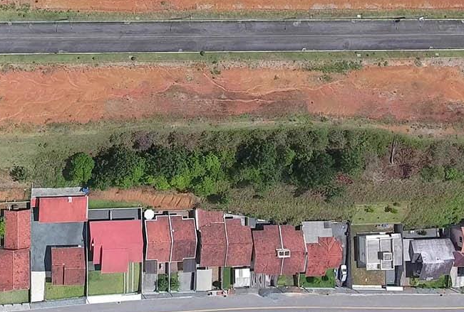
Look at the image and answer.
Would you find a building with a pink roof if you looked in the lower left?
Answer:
Yes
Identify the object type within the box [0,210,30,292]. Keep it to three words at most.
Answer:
house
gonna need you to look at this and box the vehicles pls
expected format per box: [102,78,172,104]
[341,264,348,282]
[334,268,340,281]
